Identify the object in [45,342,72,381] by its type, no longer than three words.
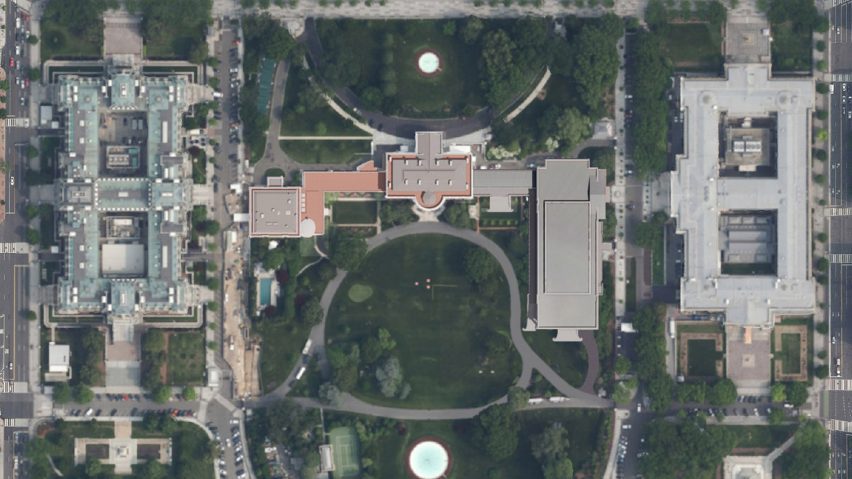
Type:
building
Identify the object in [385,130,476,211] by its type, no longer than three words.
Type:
house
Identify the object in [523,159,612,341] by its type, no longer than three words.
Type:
building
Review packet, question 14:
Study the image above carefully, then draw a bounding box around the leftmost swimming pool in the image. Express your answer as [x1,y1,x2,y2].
[255,264,277,305]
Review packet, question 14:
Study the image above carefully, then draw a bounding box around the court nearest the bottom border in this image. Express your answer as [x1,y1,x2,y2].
[331,427,360,479]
